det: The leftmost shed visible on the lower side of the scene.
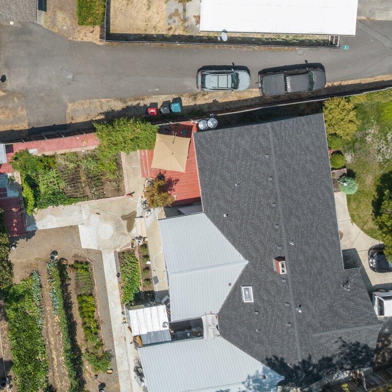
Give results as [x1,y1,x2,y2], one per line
[122,296,171,347]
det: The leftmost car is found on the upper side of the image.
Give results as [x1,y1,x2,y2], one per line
[195,67,251,93]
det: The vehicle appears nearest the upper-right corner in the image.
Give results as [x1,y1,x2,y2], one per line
[256,67,327,96]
